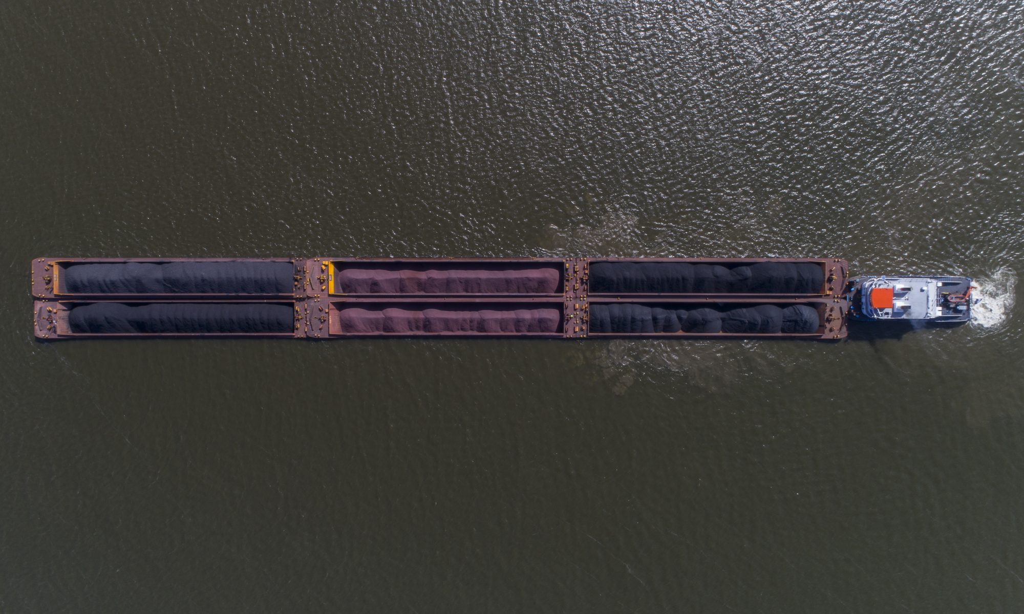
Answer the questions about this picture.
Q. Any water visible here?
Yes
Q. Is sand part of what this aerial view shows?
No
